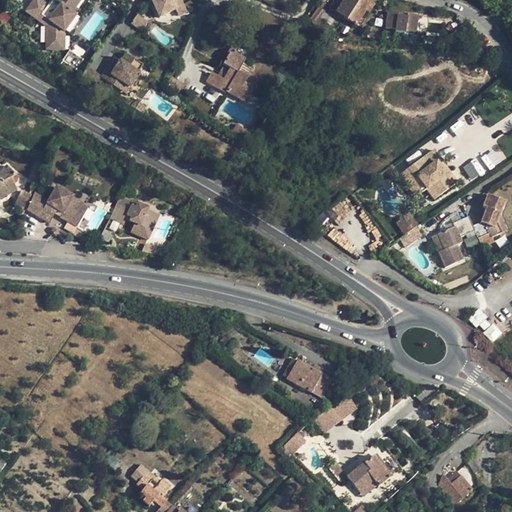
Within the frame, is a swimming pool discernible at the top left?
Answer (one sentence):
Yes, there is a swimming pool at the top left.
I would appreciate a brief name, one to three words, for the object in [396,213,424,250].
building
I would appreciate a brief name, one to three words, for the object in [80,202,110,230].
swimming pool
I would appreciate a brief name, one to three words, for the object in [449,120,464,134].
vehicle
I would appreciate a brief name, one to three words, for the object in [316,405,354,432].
shed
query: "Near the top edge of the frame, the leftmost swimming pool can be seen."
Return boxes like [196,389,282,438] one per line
[78,9,110,42]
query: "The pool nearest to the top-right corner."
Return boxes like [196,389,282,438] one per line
[378,181,402,217]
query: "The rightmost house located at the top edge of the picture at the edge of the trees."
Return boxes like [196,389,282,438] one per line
[386,11,420,30]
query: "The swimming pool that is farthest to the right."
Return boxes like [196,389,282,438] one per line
[401,238,436,276]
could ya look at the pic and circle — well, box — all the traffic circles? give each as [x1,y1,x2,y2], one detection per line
[374,296,472,396]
